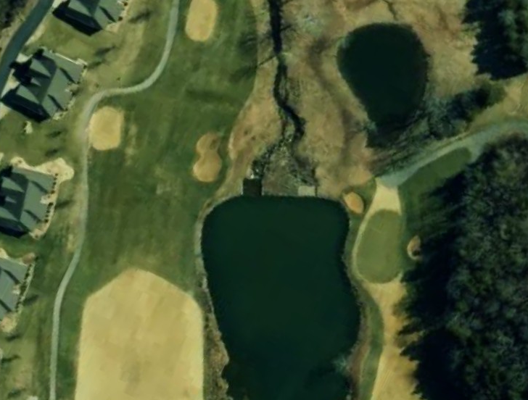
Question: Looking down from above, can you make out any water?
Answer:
Yes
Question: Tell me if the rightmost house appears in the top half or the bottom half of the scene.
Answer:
top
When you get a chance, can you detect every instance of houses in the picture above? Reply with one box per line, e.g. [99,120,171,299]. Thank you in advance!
[0,253,27,323]
[67,0,126,35]
[0,159,56,232]
[15,45,84,121]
